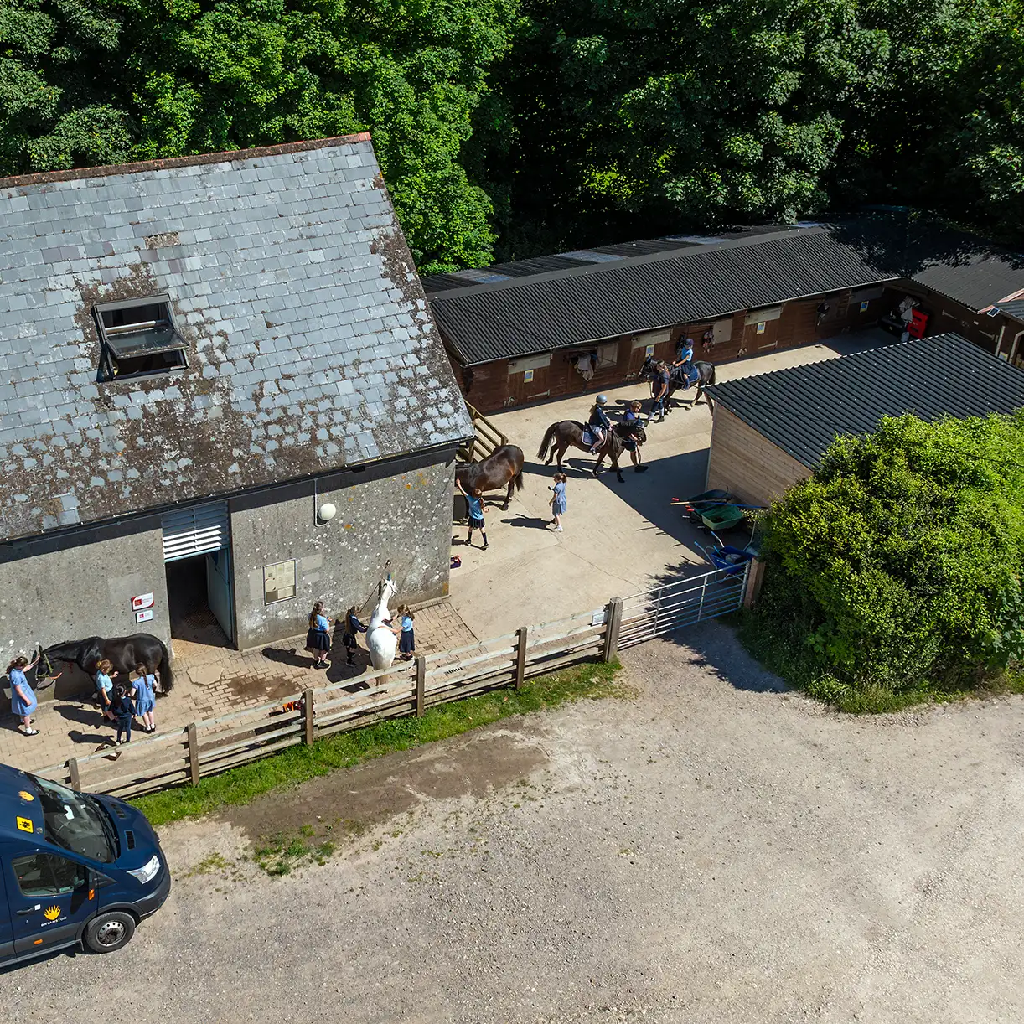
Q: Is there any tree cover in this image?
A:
Yes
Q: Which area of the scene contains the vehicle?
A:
bottom left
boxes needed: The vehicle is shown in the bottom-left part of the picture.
[0,759,174,963]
